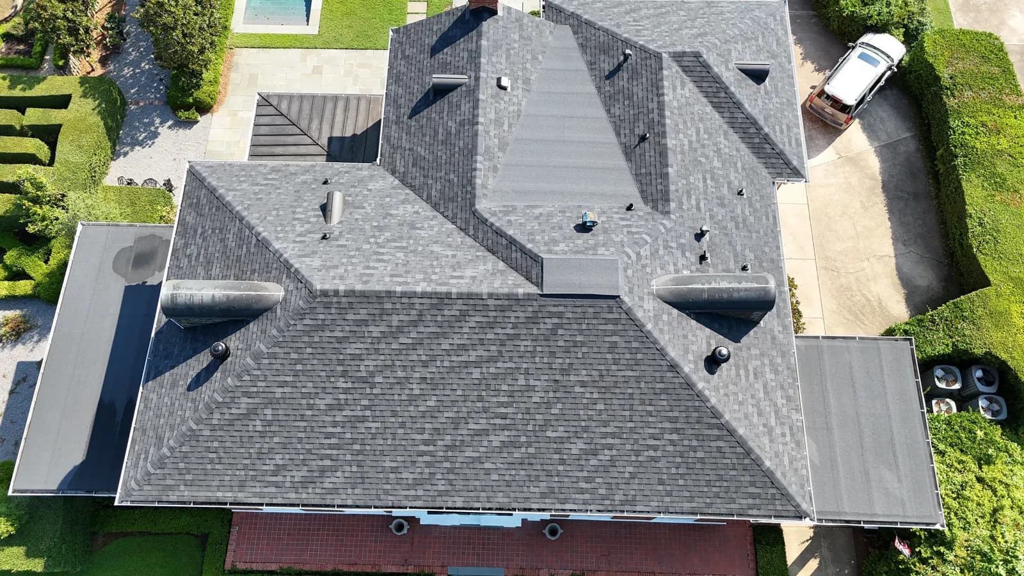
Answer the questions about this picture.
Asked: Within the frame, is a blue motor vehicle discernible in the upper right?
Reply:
No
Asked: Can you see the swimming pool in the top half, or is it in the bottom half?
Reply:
top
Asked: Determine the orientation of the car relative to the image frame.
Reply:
diagonally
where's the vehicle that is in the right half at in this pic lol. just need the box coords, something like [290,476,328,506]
[802,36,911,140]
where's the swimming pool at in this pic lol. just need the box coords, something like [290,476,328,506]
[235,0,327,36]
